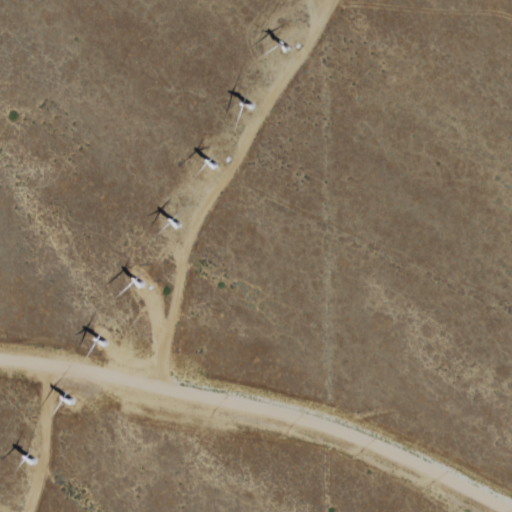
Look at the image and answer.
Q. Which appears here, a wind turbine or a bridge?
wind turbine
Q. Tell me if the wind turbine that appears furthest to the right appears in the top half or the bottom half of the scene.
top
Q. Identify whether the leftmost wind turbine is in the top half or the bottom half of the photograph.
bottom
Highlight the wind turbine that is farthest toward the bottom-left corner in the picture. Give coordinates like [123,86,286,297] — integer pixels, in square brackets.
[14,437,40,472]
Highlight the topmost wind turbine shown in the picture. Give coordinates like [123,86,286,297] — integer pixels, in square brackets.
[264,31,302,56]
